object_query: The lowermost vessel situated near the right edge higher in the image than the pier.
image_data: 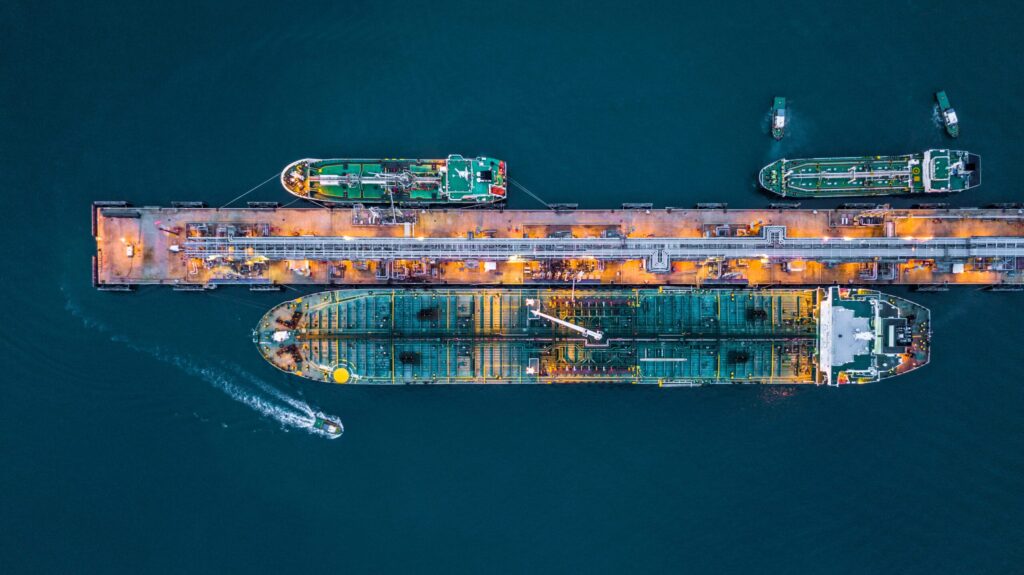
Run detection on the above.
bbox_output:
[758,150,982,198]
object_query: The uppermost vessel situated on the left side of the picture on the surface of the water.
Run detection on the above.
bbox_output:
[281,155,506,204]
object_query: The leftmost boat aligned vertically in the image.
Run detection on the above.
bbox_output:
[772,96,787,140]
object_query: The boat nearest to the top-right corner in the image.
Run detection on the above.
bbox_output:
[937,90,959,136]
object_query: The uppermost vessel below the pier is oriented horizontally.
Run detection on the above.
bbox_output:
[254,286,931,387]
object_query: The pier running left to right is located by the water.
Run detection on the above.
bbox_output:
[91,201,1024,291]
